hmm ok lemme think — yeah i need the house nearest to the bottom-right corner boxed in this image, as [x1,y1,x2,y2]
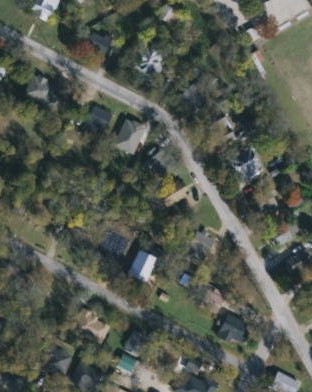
[270,370,302,392]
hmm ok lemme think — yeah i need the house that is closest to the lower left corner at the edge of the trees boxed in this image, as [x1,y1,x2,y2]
[46,350,74,375]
